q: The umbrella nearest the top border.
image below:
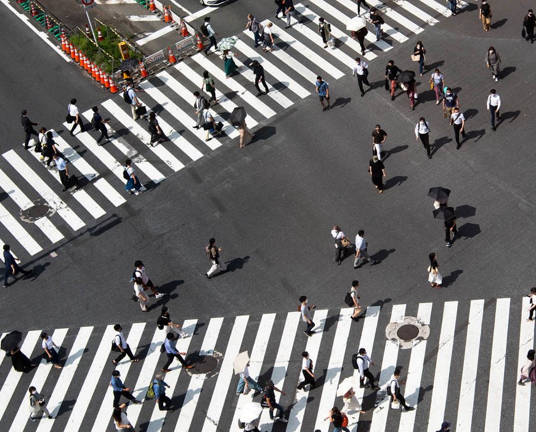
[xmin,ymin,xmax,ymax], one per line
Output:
[347,21,368,38]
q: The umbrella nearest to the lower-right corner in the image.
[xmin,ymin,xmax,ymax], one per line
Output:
[335,377,363,401]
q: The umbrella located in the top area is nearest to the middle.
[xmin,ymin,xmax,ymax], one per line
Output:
[233,107,253,127]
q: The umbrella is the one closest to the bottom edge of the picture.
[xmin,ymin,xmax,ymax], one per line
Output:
[239,400,268,429]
